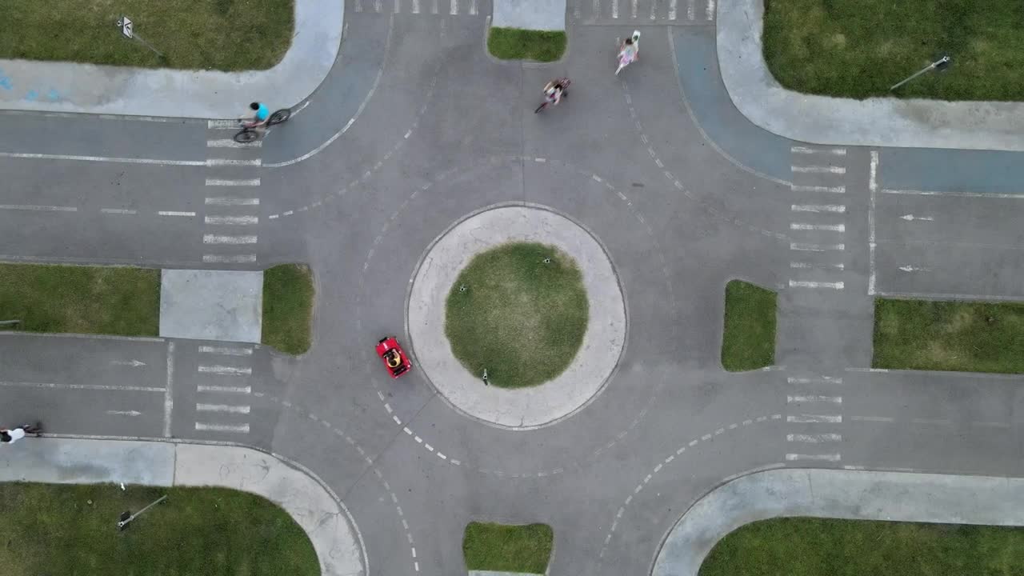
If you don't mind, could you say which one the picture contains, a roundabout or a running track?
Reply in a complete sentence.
This aerial view contains a roundabout.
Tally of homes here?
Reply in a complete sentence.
There are no homes in the image.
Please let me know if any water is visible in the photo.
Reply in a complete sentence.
No, the scene doesn't show any water.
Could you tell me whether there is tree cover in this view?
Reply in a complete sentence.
No, tree cover can't be seen anywhere here.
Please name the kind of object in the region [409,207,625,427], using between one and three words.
roundabout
